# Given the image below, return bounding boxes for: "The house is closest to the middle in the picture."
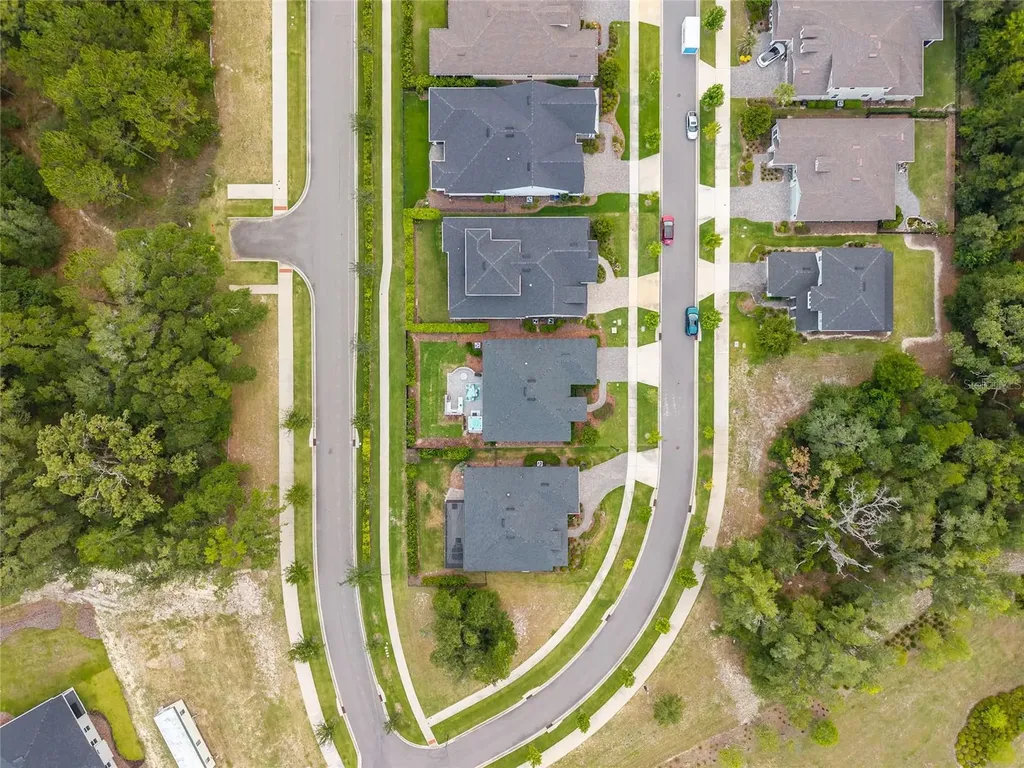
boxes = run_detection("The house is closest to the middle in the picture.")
[482,338,597,441]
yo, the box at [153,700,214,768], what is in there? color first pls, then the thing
white trailer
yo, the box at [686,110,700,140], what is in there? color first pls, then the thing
white car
